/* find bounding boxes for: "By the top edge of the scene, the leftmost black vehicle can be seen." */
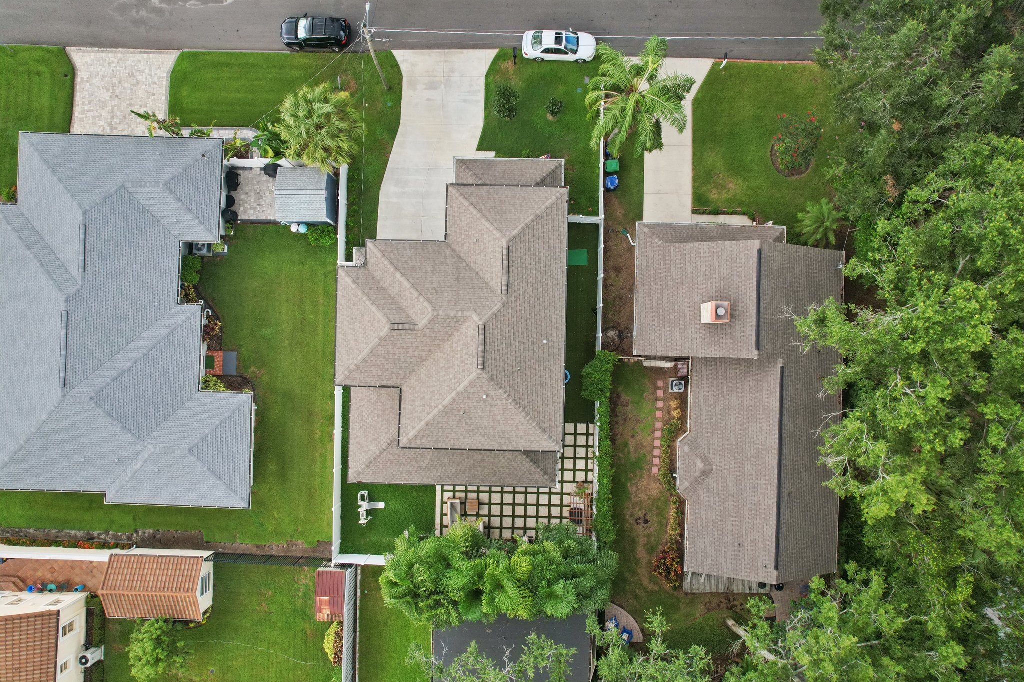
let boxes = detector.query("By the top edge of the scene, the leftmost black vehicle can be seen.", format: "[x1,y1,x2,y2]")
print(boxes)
[280,13,351,54]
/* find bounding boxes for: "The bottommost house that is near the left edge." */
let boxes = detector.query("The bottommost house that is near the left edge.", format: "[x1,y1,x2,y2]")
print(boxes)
[0,593,87,682]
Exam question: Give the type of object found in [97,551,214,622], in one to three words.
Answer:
building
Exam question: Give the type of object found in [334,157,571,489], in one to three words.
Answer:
house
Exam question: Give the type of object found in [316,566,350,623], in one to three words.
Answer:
shed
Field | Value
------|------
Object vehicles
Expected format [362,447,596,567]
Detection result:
[280,13,351,54]
[524,27,597,65]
